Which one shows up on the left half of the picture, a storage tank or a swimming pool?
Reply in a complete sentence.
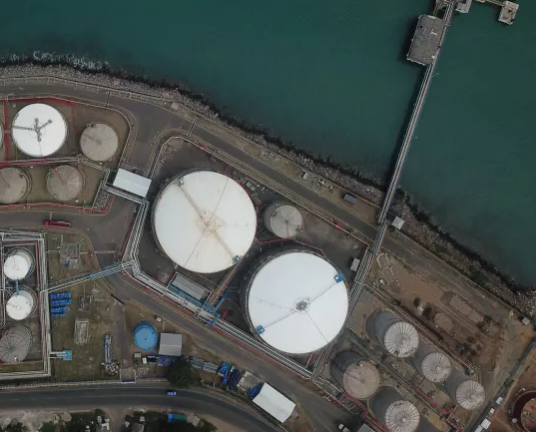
You can see a storage tank on the left half of the picture.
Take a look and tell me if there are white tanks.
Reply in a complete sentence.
Yes, the picture does show a white tank.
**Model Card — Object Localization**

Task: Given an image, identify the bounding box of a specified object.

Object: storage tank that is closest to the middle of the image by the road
[263,195,304,239]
